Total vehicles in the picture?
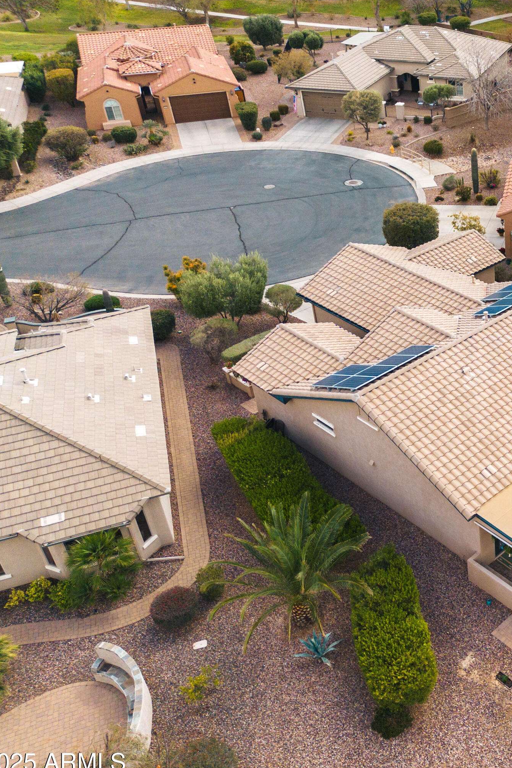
0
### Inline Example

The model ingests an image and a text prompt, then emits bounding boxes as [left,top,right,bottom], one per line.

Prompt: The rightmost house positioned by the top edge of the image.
[285,25,512,118]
